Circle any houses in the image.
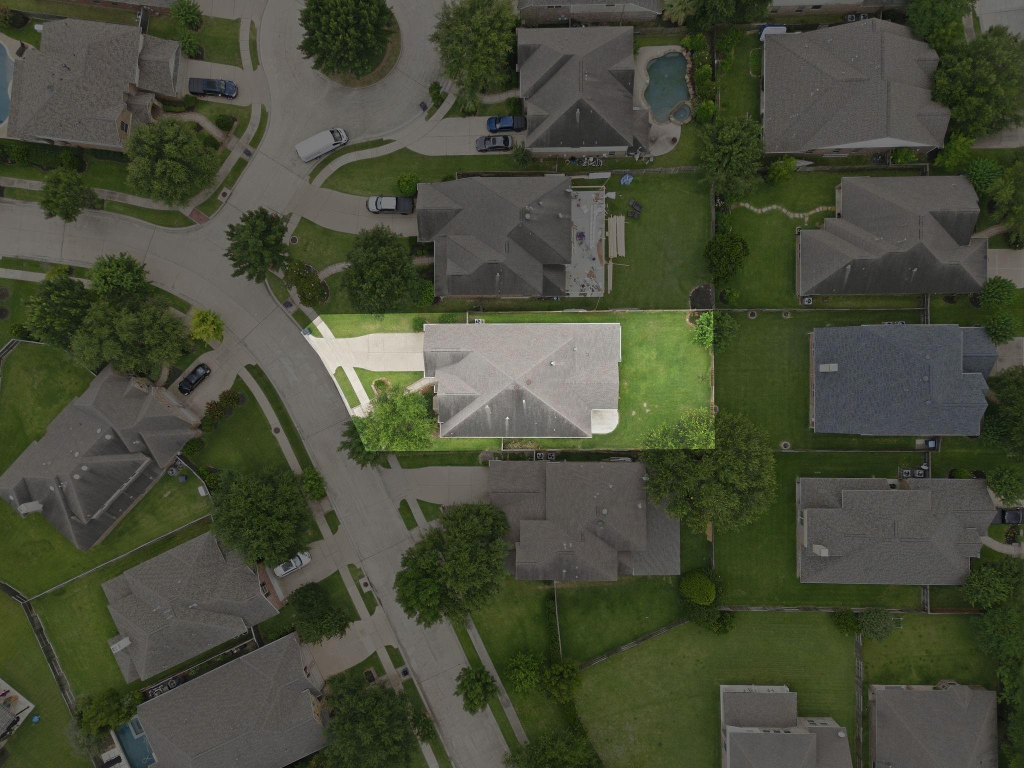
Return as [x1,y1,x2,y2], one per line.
[421,322,621,438]
[717,685,851,768]
[101,535,283,684]
[516,22,651,159]
[488,460,681,582]
[6,21,186,150]
[795,175,992,295]
[415,174,572,297]
[806,324,1003,435]
[0,367,201,552]
[793,477,1002,585]
[758,17,957,157]
[137,630,333,768]
[868,680,997,768]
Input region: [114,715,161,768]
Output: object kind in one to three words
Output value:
swimming pool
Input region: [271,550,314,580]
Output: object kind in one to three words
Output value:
car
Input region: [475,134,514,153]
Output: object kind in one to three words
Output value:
car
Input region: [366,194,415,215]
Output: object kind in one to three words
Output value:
truck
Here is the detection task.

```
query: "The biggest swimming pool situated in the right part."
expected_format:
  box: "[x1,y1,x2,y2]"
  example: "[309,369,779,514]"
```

[641,49,692,125]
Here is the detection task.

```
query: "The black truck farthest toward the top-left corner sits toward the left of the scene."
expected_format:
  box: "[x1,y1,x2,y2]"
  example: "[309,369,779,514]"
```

[187,78,238,100]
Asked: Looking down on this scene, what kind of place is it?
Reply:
residential area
